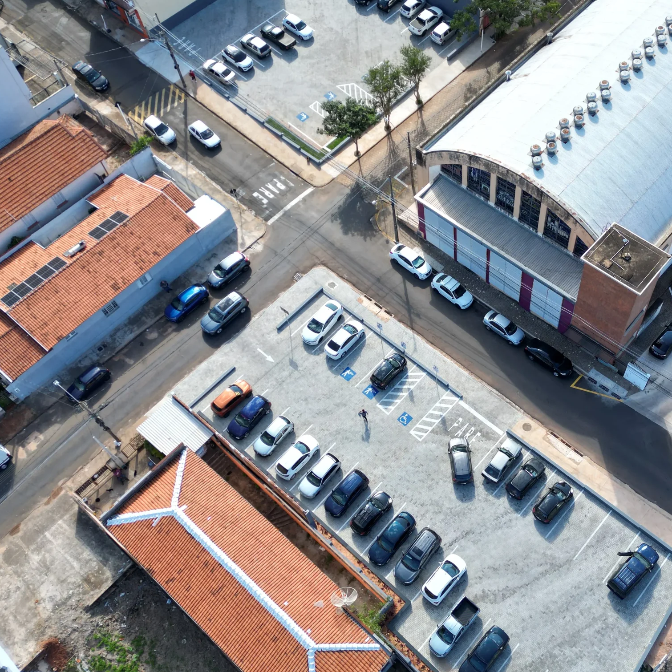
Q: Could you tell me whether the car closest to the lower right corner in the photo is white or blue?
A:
blue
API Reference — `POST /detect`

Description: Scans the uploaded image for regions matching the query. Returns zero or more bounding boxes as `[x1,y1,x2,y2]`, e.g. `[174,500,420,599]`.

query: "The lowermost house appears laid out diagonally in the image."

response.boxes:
[107,448,389,672]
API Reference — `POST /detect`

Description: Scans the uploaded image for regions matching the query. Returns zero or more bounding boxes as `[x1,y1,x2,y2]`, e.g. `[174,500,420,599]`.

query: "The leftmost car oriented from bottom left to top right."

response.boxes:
[67,364,115,403]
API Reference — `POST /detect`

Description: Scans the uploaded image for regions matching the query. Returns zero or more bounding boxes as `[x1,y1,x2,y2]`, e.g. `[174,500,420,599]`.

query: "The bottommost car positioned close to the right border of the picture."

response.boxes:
[610,545,659,600]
